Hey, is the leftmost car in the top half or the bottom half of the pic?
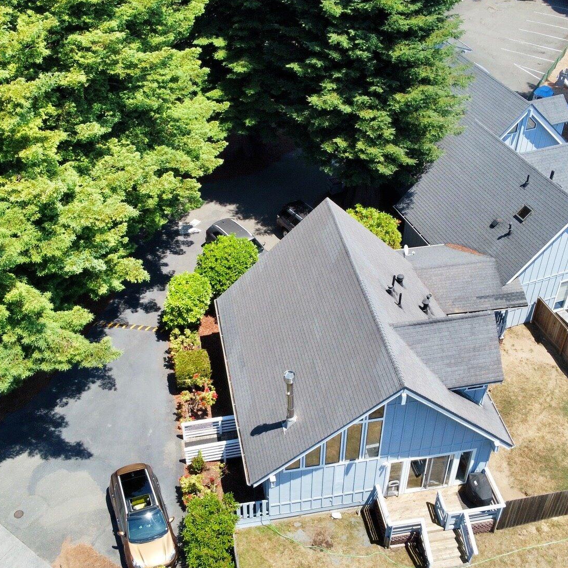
bottom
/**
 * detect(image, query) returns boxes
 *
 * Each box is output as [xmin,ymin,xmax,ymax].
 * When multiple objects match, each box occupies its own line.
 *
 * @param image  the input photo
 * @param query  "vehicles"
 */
[112,466,179,568]
[209,222,267,274]
[278,205,311,237]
